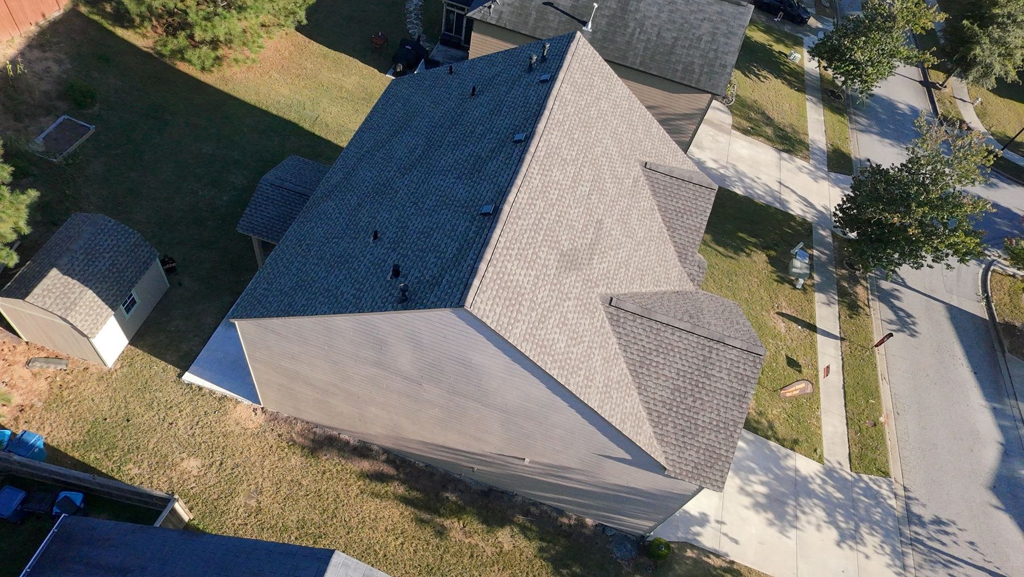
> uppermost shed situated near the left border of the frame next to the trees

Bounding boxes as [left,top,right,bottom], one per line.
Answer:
[0,212,175,370]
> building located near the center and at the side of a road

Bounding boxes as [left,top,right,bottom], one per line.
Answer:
[229,30,768,542]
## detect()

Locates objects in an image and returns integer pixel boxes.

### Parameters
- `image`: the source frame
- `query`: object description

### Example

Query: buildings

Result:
[14,512,378,577]
[0,212,175,370]
[229,30,768,542]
